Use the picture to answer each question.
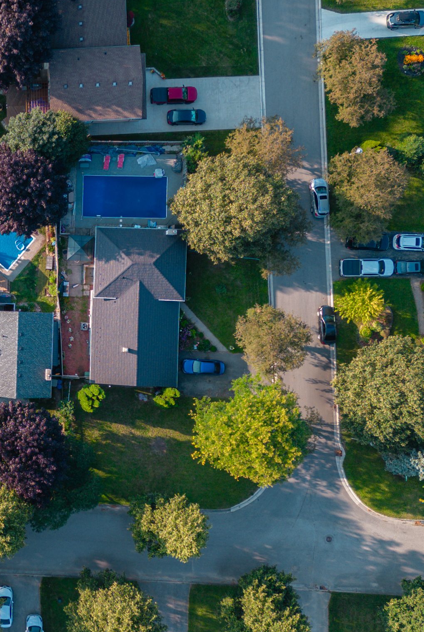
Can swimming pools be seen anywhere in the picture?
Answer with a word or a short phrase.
Yes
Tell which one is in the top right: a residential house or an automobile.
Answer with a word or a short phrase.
automobile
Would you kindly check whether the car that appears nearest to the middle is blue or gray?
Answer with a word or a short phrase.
blue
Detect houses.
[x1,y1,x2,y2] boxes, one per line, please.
[38,0,144,124]
[88,227,187,388]
[0,306,55,400]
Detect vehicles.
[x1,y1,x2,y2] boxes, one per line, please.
[338,256,394,278]
[344,234,388,252]
[148,83,197,106]
[24,612,45,632]
[315,305,338,345]
[391,232,424,253]
[165,107,206,127]
[181,357,225,377]
[0,584,15,628]
[383,8,424,31]
[394,257,424,277]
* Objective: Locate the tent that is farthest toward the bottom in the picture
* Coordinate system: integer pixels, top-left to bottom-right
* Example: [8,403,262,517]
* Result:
[66,235,93,261]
